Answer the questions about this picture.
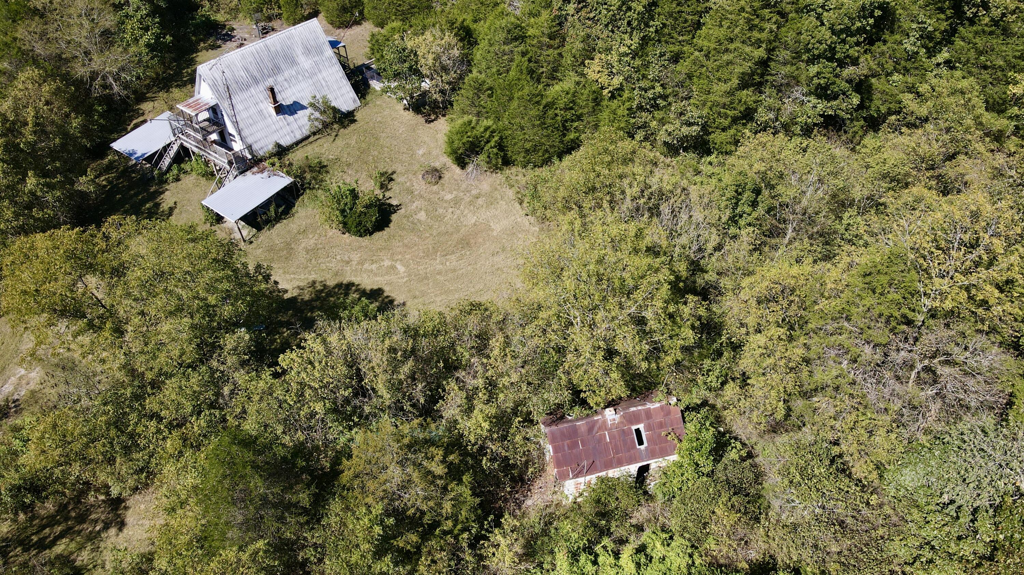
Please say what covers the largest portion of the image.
trees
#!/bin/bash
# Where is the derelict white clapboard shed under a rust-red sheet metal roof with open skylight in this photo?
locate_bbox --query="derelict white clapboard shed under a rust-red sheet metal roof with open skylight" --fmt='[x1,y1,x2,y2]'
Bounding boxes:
[537,401,685,500]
